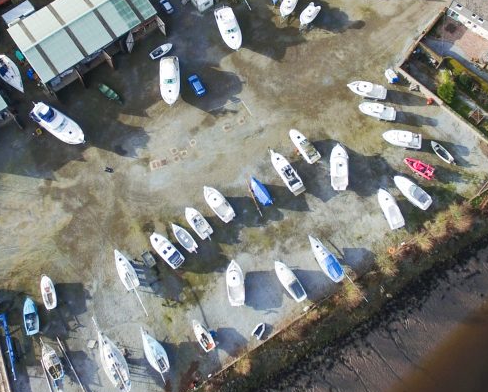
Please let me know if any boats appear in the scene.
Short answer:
Yes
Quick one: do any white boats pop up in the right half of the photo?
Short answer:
Yes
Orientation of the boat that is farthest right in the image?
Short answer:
at an angle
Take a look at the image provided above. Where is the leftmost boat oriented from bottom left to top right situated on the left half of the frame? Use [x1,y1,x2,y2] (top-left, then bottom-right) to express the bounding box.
[149,44,173,61]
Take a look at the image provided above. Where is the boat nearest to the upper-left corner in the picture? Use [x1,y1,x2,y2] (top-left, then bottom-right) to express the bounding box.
[0,53,27,91]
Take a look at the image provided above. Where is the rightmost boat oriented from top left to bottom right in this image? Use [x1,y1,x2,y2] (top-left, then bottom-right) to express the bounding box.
[432,141,456,165]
